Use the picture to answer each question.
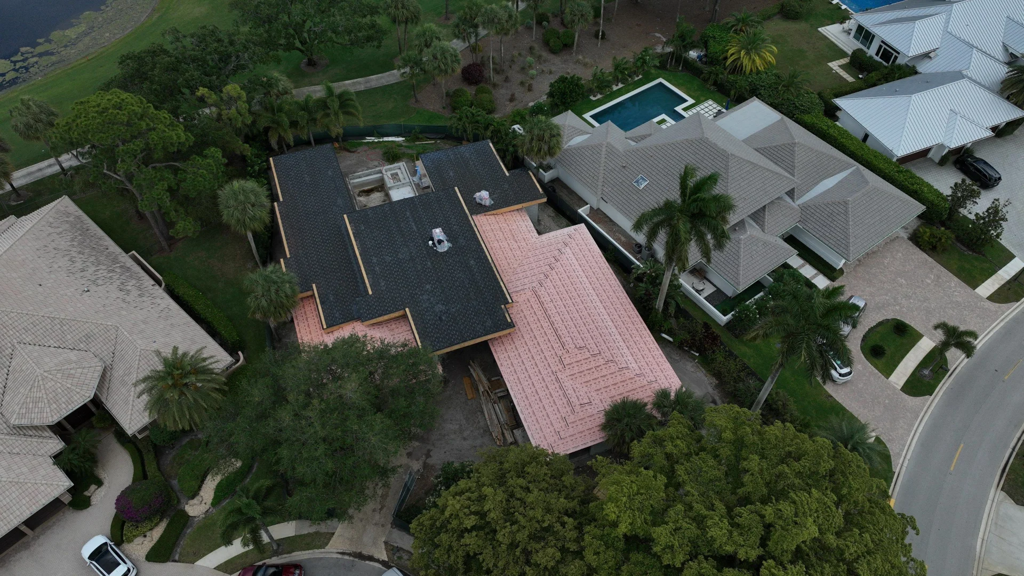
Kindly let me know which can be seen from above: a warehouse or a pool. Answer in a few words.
pool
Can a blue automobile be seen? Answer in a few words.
No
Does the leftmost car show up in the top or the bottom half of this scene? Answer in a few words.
bottom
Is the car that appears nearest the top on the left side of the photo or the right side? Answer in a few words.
right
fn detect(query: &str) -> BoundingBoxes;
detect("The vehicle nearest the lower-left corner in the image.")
[81,529,149,576]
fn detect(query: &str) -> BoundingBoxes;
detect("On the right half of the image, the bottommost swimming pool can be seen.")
[579,76,698,133]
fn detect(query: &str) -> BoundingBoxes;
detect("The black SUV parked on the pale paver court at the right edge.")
[948,157,1009,195]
